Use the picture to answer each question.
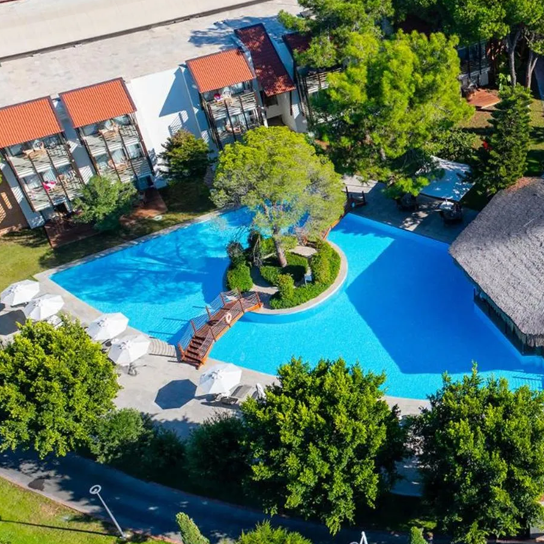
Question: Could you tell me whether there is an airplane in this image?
No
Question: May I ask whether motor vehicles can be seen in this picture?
No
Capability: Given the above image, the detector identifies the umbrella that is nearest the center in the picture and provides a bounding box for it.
[198,367,243,407]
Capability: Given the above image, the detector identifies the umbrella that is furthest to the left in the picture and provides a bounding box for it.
[0,284,44,311]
